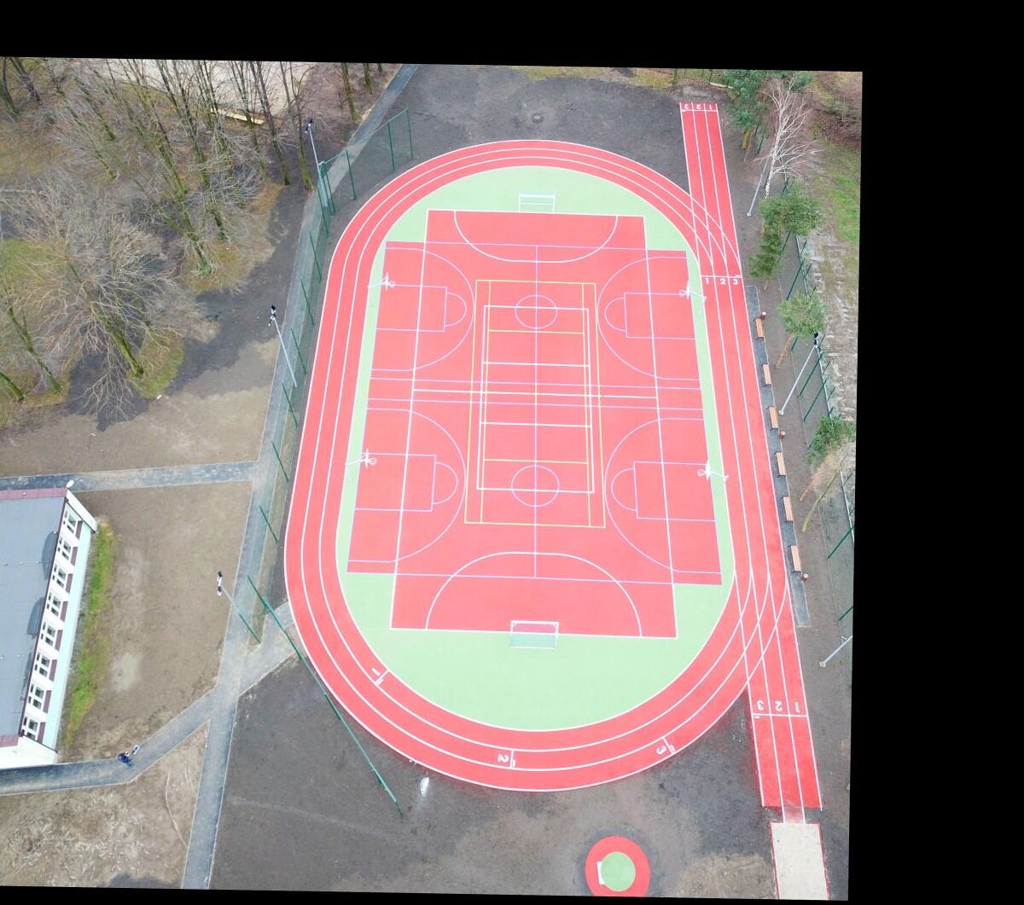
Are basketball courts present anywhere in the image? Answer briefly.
Yes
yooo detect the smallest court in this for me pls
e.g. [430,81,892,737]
[477,305,594,493]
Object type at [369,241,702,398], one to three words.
basketball court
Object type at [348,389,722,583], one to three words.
basketball court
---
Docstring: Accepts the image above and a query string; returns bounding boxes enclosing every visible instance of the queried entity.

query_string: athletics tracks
[287,101,822,823]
